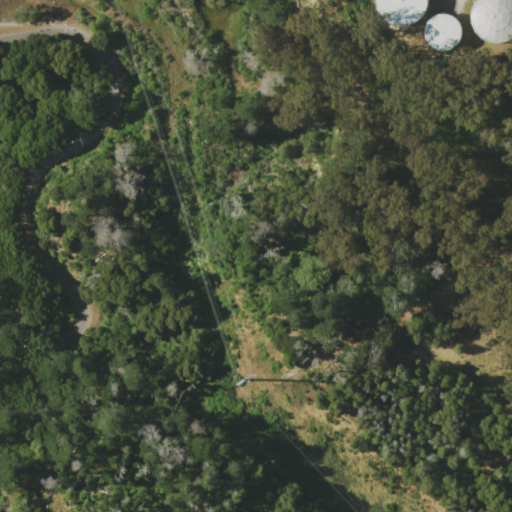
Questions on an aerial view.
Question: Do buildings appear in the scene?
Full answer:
No, no building is visible in the view.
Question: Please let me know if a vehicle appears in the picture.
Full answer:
No, this view has no vehicle in it.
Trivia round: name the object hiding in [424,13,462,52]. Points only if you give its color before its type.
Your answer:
white storage tank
